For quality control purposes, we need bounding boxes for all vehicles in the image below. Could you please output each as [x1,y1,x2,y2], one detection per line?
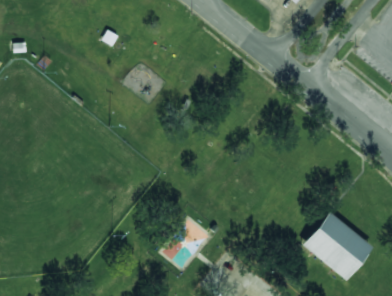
[224,262,233,270]
[284,0,291,8]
